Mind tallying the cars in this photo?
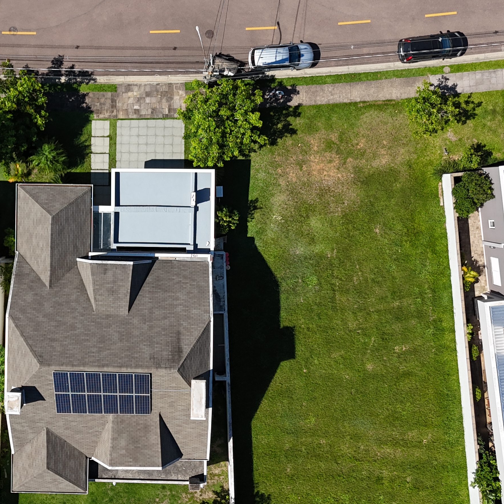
2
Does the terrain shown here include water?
No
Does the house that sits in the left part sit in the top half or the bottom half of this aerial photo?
bottom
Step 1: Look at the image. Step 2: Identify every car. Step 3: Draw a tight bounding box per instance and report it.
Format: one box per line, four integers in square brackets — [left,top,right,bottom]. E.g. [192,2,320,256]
[247,40,314,75]
[394,29,460,65]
